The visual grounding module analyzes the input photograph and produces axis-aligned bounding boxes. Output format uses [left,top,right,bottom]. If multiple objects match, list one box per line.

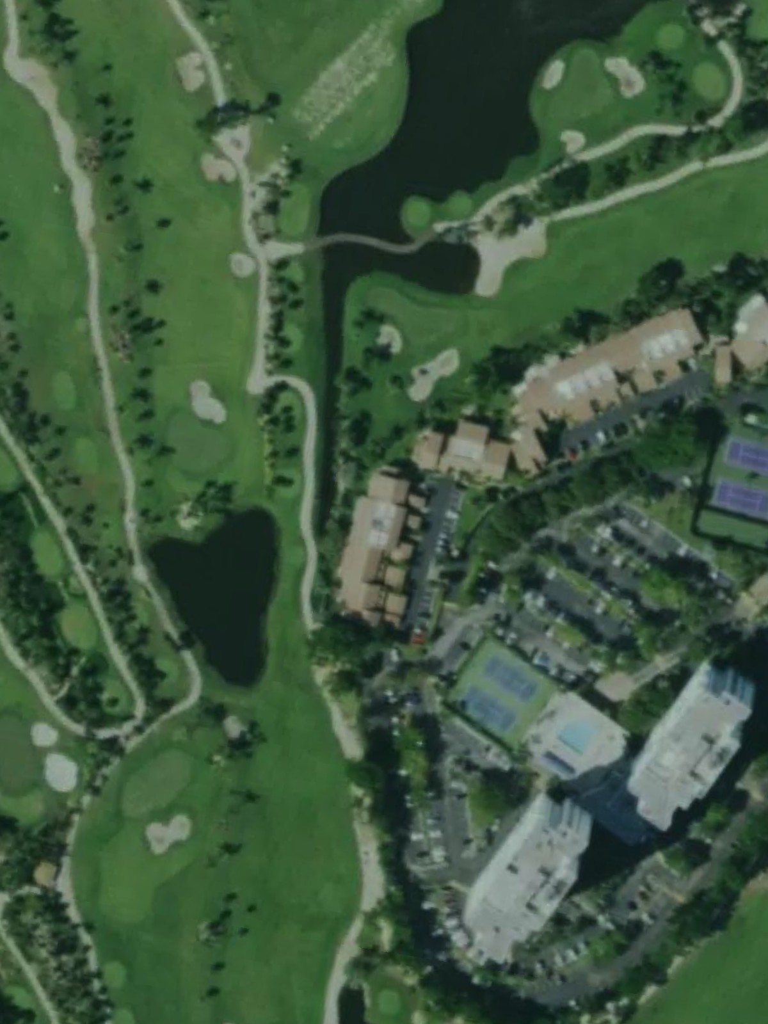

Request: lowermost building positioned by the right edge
[628,661,751,831]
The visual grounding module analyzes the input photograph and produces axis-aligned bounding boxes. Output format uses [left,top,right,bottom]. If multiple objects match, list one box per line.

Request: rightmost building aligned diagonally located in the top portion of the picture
[510,306,703,475]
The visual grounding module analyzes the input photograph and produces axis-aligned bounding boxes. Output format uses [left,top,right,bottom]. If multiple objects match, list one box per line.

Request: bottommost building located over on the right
[467,796,590,967]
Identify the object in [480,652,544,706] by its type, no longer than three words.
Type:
tennis court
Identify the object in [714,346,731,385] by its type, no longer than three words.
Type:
building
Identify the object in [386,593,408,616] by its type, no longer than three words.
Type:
building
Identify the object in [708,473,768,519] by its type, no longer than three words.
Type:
tennis court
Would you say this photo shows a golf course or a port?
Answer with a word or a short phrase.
golf course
